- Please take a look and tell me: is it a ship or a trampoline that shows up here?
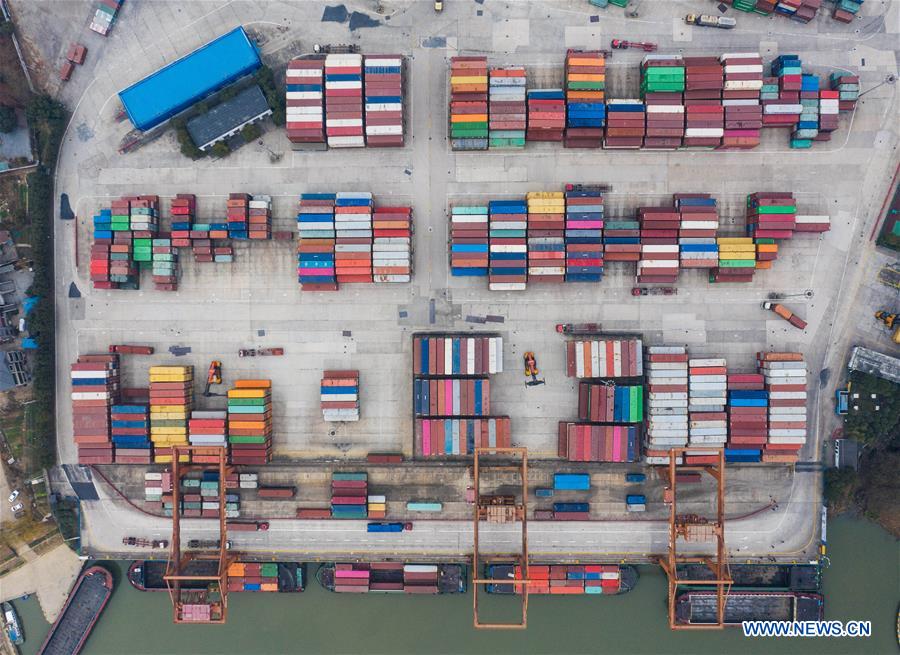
ship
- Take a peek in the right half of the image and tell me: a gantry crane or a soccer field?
gantry crane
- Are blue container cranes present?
No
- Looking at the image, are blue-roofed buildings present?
Yes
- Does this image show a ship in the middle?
No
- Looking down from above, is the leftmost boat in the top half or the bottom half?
bottom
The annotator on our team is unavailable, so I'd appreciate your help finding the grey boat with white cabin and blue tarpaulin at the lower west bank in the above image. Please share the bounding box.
[4,605,25,644]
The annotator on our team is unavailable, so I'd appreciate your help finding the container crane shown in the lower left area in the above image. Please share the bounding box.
[163,448,247,630]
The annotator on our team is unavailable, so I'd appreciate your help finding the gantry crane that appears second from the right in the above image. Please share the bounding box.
[463,448,531,627]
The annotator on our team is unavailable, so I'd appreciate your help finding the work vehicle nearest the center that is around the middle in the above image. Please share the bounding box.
[524,352,544,389]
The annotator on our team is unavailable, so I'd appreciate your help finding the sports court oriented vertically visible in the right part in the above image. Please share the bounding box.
[876,185,900,251]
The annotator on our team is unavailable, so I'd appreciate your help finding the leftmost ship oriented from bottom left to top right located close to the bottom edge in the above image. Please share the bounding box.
[40,564,120,655]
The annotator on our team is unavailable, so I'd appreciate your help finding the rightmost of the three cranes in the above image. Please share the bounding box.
[650,448,734,627]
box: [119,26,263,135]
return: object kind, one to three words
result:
building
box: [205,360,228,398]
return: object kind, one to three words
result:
work vehicle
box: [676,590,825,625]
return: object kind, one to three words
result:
ship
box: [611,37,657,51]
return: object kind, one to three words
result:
vehicle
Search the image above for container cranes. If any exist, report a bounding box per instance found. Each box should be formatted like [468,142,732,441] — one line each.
[463,448,531,627]
[650,448,734,627]
[163,448,247,630]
